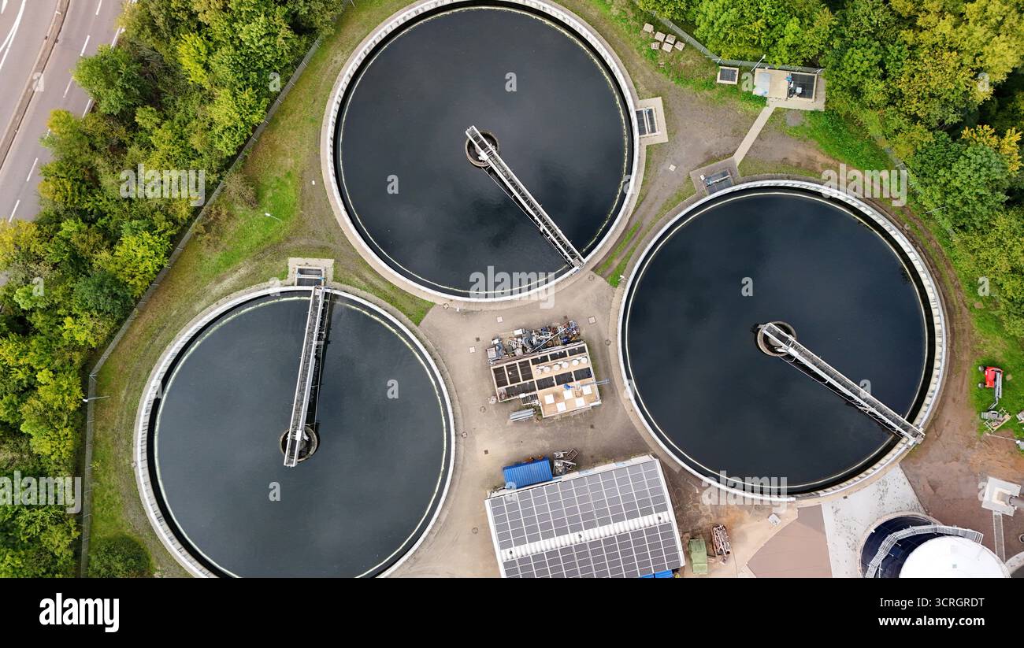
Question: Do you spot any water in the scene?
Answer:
Yes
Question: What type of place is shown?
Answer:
industrial area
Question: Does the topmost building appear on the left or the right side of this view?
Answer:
right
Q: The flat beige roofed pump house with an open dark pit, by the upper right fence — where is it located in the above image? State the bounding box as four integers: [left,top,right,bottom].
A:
[750,69,816,104]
